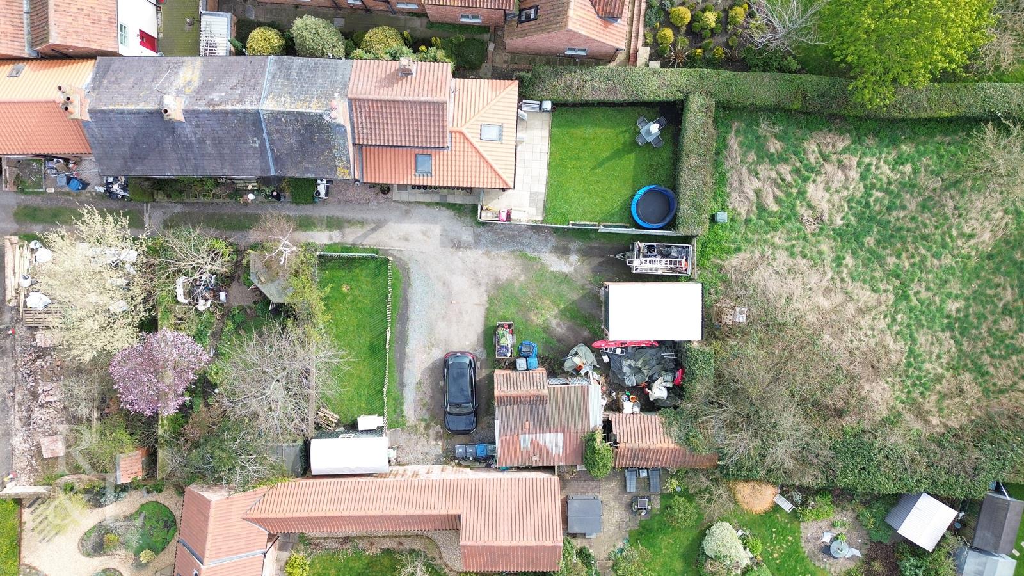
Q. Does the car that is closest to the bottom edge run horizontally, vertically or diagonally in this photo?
vertically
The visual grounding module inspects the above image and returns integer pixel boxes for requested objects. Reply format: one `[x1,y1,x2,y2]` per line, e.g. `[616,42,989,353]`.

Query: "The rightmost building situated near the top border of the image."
[503,0,626,62]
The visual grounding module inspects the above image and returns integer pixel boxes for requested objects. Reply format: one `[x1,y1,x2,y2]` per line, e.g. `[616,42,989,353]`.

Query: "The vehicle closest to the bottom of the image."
[438,353,481,436]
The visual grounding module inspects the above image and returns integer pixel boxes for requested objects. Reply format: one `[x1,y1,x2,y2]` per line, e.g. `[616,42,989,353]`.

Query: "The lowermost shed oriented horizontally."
[947,544,1017,576]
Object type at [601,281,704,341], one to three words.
shed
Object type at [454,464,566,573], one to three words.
shed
